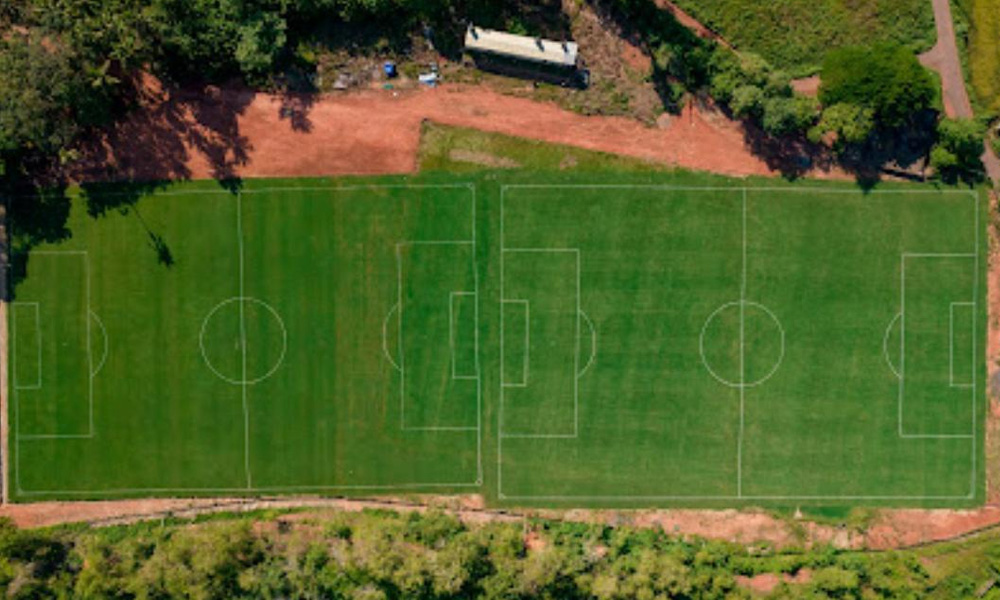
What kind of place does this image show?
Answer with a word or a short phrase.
sports ground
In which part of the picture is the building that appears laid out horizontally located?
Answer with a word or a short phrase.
top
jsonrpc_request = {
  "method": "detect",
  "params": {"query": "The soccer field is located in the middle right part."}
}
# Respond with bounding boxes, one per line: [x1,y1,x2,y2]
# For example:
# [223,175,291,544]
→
[488,170,989,519]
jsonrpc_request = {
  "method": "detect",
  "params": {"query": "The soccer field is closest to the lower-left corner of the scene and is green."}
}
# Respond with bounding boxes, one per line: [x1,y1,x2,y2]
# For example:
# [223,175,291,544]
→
[8,171,488,507]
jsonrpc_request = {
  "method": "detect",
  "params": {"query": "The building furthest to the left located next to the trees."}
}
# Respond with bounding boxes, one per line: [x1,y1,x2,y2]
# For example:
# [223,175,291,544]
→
[463,23,580,81]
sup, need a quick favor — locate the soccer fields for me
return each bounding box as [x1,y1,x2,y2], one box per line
[488,170,989,519]
[8,171,488,507]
